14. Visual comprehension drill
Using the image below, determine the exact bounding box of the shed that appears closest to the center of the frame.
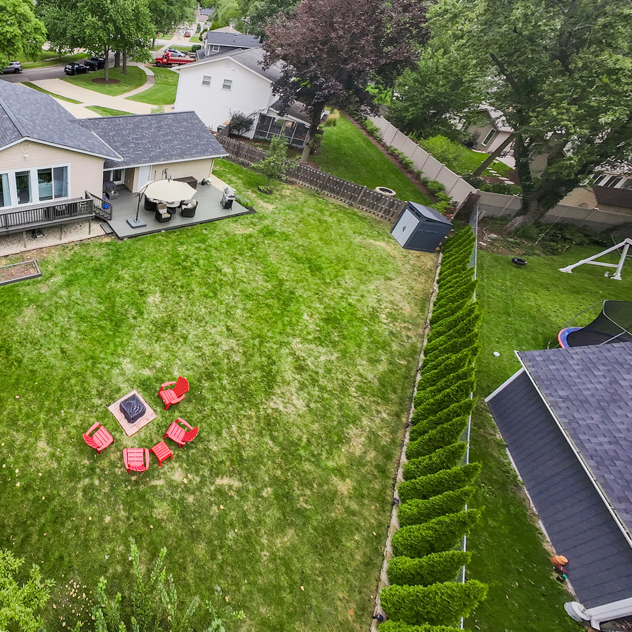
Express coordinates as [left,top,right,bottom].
[394,203,456,252]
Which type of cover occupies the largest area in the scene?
grass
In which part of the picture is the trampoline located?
right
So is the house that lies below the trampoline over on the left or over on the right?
right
